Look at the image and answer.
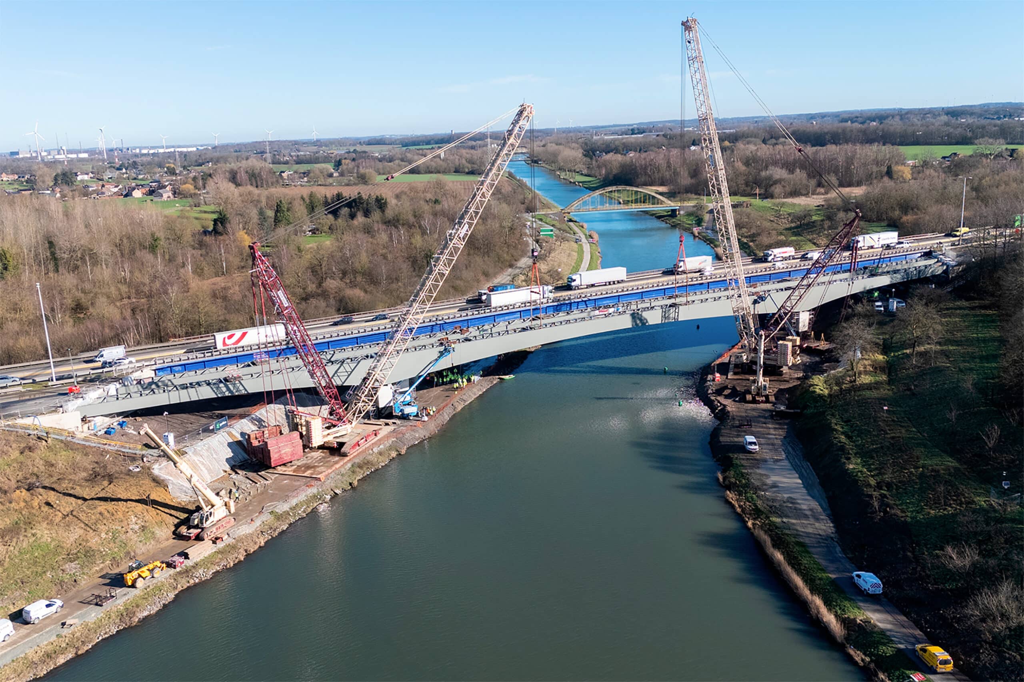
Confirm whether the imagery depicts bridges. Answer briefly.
Yes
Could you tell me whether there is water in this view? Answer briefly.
Yes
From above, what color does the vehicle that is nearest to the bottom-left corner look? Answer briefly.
white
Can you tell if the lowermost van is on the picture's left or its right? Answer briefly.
right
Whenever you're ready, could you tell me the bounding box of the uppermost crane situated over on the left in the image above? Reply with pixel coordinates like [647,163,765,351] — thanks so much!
[248,93,537,457]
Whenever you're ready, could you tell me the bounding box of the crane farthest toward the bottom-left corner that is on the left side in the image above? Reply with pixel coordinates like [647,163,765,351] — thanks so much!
[135,419,240,537]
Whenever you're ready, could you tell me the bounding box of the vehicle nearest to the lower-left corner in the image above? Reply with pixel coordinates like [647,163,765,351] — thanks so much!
[0,619,24,640]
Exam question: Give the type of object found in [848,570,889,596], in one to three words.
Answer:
vehicle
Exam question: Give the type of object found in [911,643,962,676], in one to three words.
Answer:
van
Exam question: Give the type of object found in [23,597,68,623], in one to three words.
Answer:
vehicle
